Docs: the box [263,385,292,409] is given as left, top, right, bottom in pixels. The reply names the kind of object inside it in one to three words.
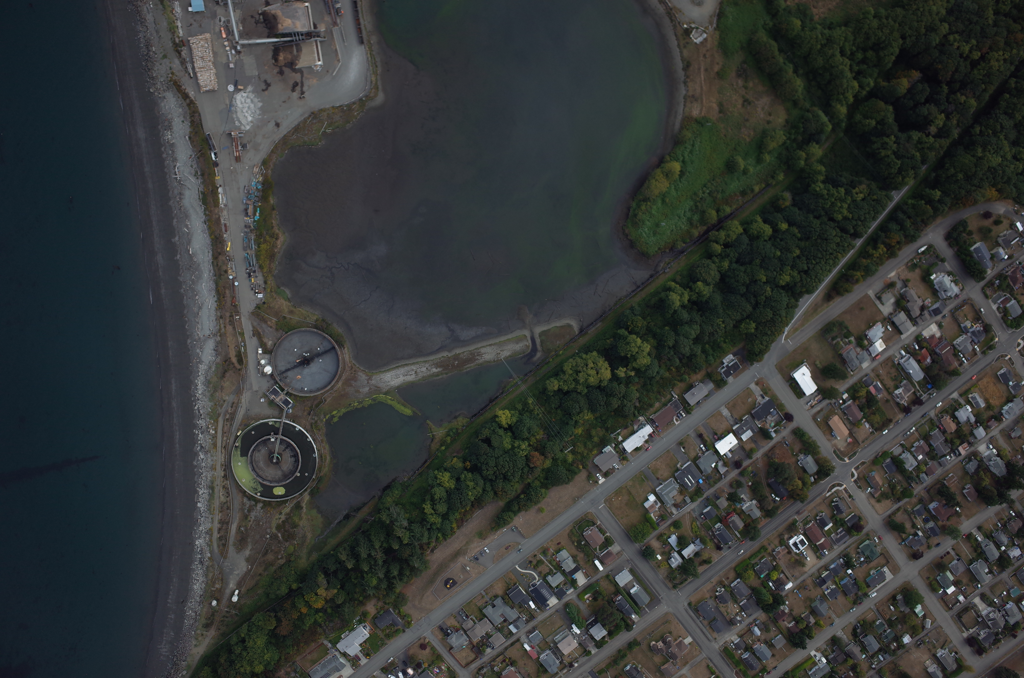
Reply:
building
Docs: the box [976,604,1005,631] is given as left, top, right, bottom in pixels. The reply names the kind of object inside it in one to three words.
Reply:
house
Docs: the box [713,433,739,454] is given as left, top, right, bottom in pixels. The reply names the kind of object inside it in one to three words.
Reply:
house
